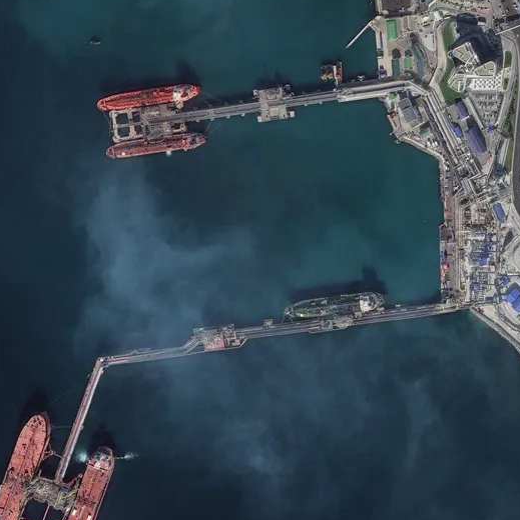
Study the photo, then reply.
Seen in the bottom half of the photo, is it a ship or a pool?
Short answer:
ship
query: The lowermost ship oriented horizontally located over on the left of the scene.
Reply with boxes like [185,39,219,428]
[106,133,209,158]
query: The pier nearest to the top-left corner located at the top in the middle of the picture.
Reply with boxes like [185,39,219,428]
[156,90,339,124]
